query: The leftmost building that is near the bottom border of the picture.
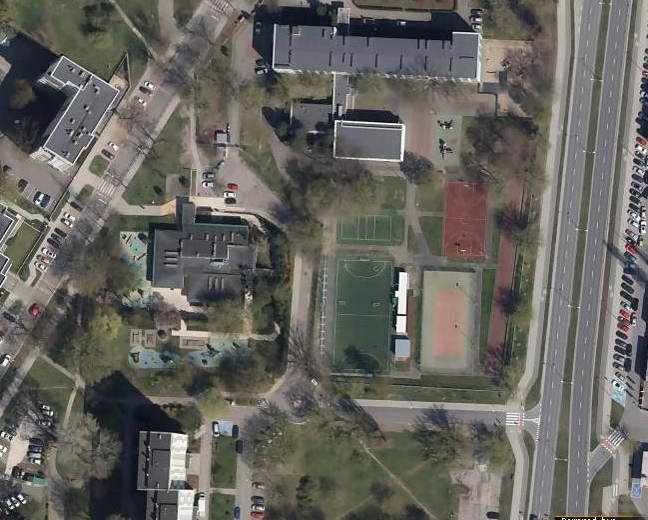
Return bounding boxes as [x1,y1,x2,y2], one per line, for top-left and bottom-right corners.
[136,432,200,520]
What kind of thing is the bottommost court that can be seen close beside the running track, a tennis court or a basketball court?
tennis court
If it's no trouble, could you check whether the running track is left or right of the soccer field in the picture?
to its right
